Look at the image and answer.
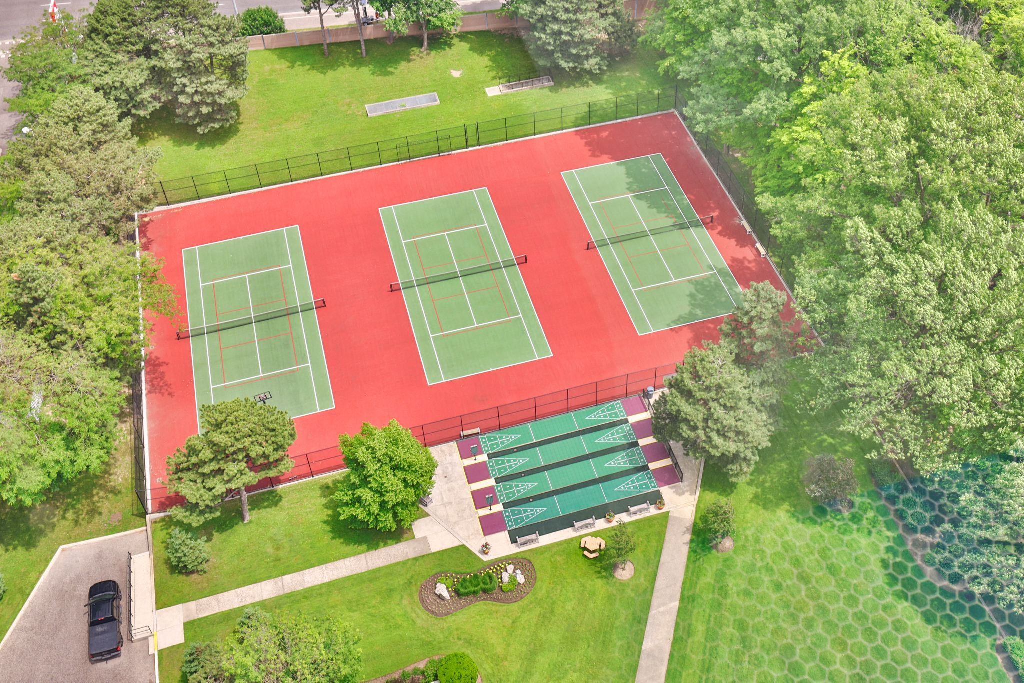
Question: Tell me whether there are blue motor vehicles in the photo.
No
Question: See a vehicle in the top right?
No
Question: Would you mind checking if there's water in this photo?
No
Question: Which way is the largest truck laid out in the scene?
from top to bottom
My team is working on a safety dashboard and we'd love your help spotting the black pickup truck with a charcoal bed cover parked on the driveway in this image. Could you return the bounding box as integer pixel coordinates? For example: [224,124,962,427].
[83,581,125,663]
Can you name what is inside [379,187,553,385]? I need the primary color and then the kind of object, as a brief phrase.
green tennis court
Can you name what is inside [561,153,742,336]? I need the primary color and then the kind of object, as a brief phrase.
green tennis court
